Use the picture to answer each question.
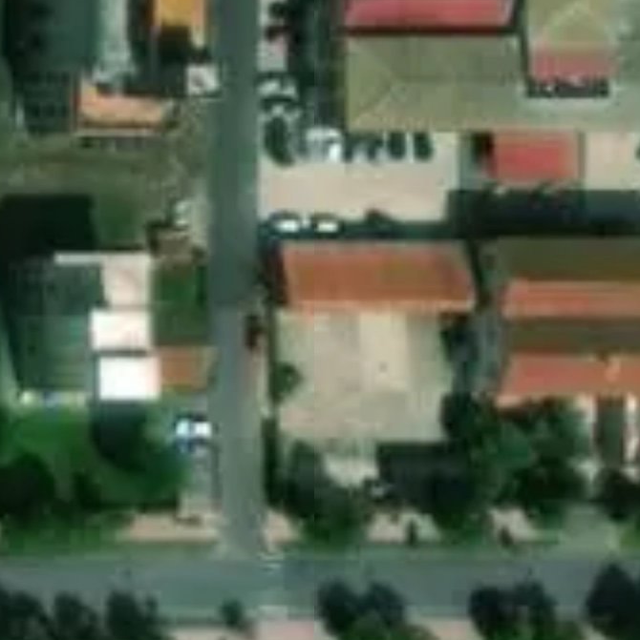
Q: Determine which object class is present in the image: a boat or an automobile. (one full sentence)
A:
Looking from above, you can make out an automobile.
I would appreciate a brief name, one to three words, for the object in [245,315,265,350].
car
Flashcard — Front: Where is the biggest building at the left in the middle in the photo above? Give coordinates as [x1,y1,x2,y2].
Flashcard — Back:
[21,252,163,399]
